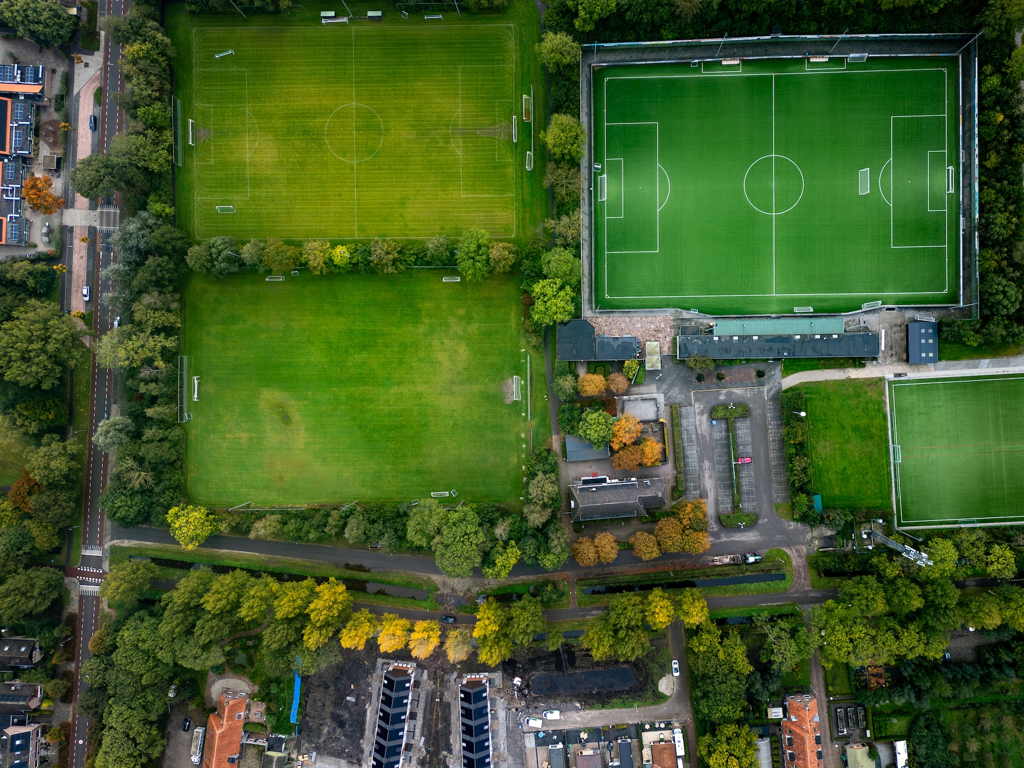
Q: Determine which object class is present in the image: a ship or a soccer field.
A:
soccer field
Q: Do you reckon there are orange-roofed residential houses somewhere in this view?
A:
Yes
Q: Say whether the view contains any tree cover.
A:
Yes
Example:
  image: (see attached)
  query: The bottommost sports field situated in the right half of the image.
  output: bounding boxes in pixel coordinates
[889,371,1024,527]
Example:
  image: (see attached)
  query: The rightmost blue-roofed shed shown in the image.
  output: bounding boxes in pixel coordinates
[903,322,938,363]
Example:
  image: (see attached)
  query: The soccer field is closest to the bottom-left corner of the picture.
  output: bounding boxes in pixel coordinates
[183,267,553,512]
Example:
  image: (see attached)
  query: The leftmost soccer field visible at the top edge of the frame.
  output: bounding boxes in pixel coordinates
[165,0,546,245]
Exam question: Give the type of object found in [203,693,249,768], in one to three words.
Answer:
house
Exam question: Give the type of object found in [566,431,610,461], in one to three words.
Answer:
shed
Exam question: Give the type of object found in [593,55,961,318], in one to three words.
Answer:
soccer field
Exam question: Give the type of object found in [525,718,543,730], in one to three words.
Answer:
vehicle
